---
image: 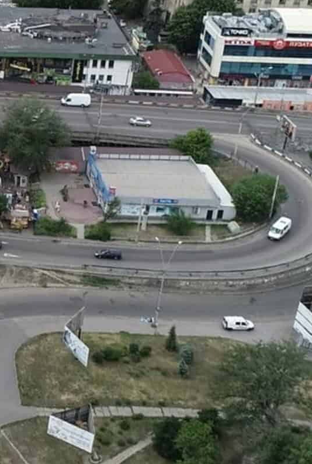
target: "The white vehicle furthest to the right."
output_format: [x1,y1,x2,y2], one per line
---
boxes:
[271,217,289,236]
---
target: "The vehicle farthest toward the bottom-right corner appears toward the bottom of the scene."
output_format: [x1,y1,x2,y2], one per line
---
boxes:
[223,313,252,330]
